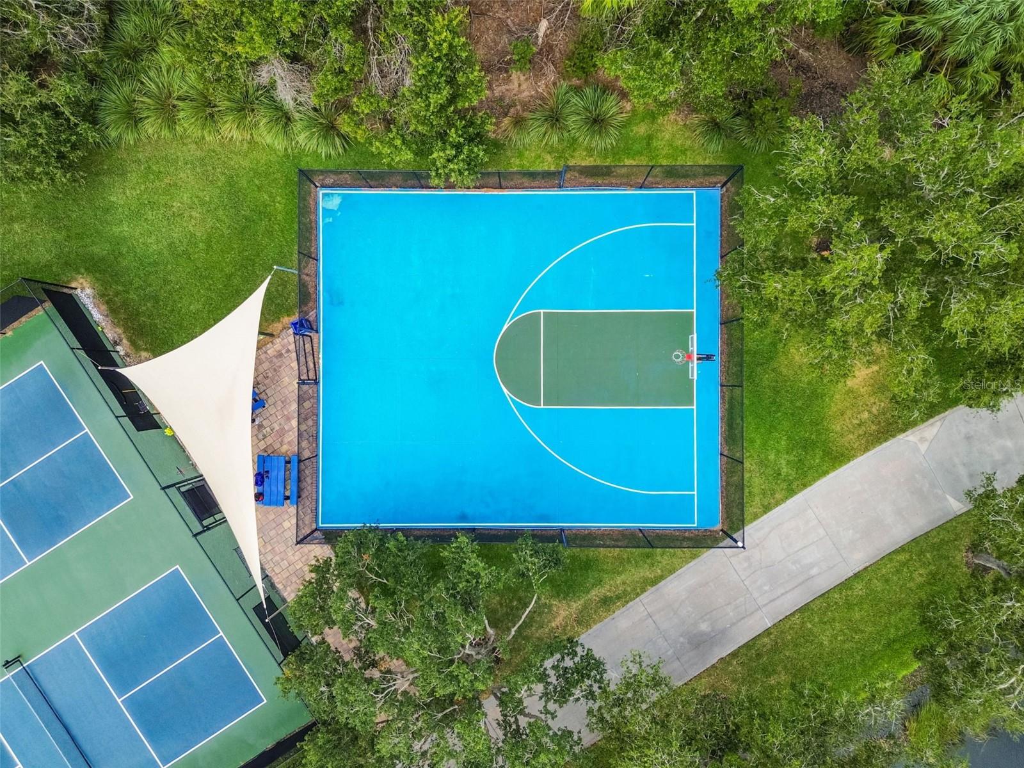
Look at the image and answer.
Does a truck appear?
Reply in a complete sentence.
No, the scene contains no truck.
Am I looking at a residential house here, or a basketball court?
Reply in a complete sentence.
Of the two, only a basketball court appears.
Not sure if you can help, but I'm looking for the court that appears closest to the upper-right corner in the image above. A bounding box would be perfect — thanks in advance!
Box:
[318,187,721,530]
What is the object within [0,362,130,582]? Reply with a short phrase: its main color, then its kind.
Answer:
blue sports court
